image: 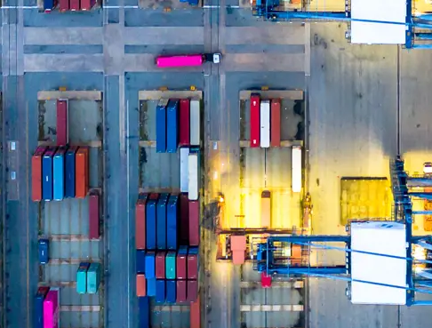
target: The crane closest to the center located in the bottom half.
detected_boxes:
[209,193,317,264]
